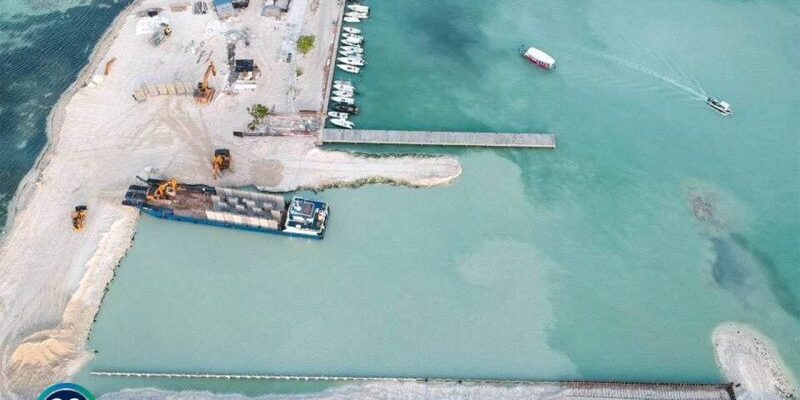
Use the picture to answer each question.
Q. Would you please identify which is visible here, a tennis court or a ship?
ship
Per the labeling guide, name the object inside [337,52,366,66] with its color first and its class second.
white boat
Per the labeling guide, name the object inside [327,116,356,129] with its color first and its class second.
white boat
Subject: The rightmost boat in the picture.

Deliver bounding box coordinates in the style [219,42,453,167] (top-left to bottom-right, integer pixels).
[705,95,734,113]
